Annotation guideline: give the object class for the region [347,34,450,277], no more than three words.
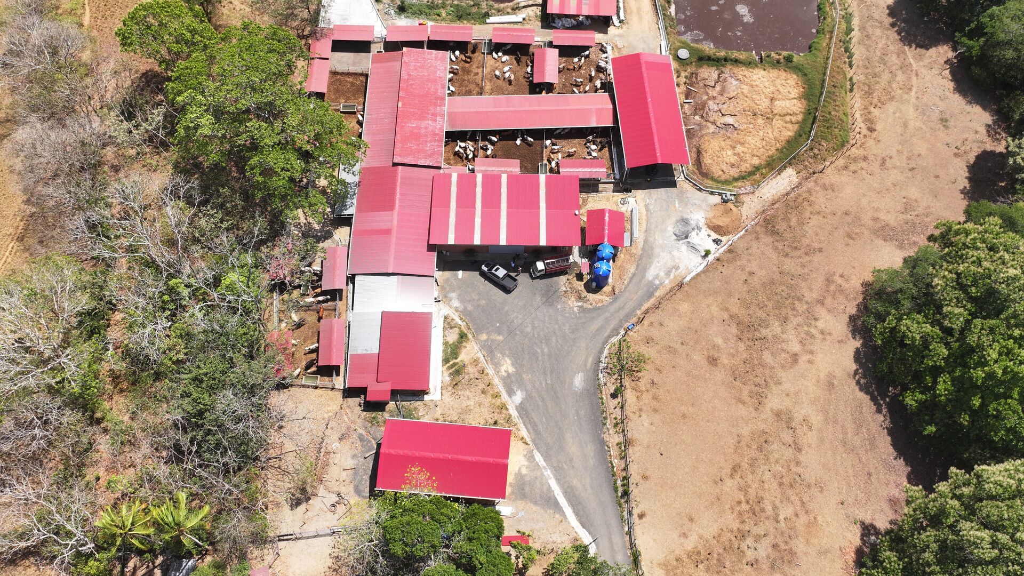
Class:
barn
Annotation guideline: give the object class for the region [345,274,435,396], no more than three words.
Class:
barn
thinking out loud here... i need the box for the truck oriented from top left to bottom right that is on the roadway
[478,261,521,295]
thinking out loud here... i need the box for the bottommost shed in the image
[376,417,511,508]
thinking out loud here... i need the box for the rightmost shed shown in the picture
[610,52,692,182]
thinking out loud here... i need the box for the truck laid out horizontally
[530,252,575,278]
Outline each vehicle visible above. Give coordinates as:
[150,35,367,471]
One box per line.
[478,261,521,295]
[530,252,575,278]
